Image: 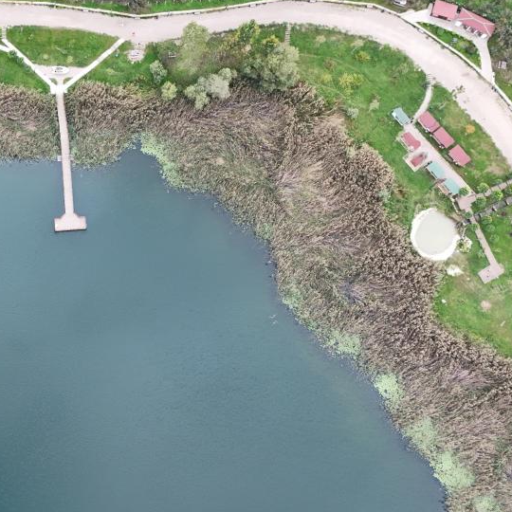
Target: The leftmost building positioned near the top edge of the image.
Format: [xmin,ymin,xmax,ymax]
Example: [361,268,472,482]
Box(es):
[429,0,459,24]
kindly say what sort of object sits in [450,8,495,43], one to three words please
building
